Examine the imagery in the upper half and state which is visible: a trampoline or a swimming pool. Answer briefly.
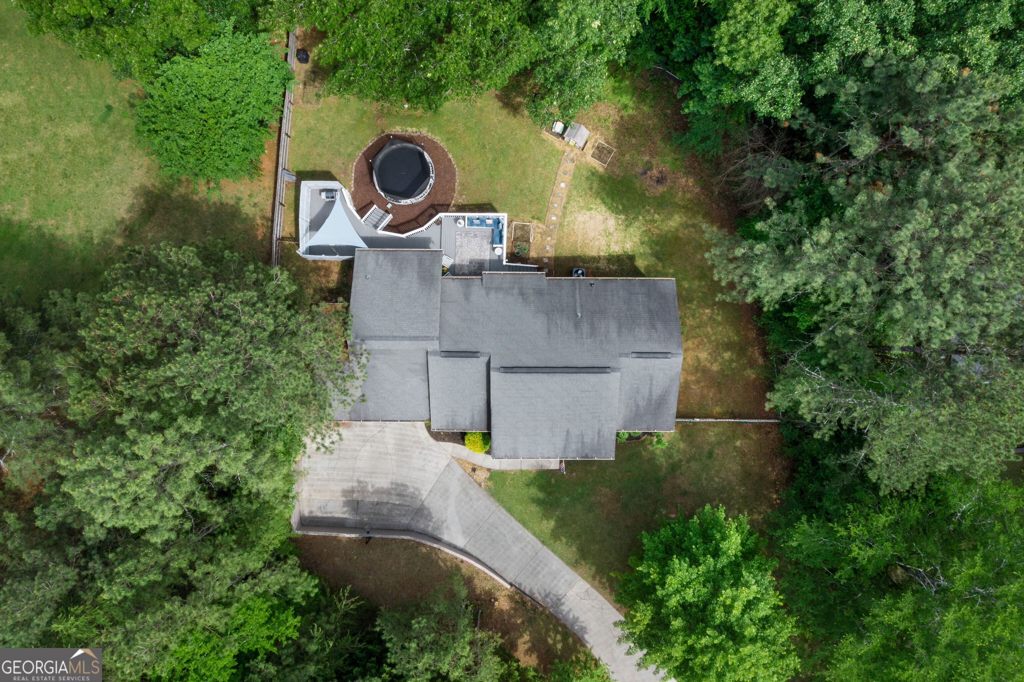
trampoline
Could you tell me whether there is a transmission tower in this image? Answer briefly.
No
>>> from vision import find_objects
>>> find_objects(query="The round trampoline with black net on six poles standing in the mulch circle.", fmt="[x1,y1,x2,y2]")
[367,136,436,207]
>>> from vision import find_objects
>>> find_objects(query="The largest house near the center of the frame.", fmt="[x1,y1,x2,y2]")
[318,247,683,461]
